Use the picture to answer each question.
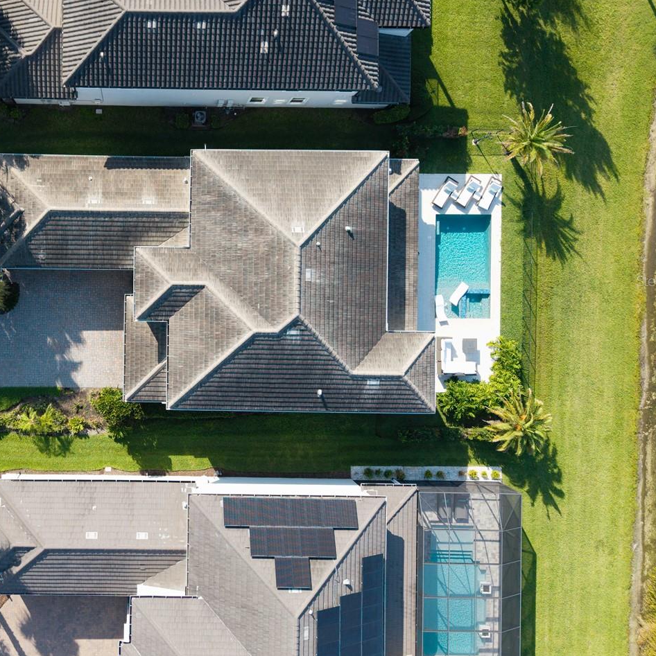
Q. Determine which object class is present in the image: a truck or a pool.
pool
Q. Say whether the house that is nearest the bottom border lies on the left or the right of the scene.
left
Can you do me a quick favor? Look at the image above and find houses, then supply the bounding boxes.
[0,144,437,415]
[0,0,433,109]
[0,475,419,656]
